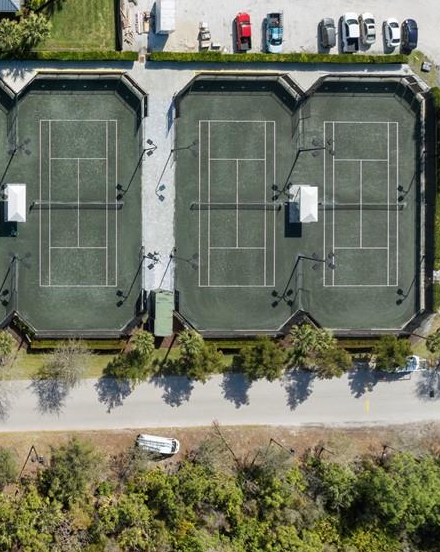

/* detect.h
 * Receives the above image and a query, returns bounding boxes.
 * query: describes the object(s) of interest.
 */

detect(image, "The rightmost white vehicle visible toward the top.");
[382,17,402,50]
